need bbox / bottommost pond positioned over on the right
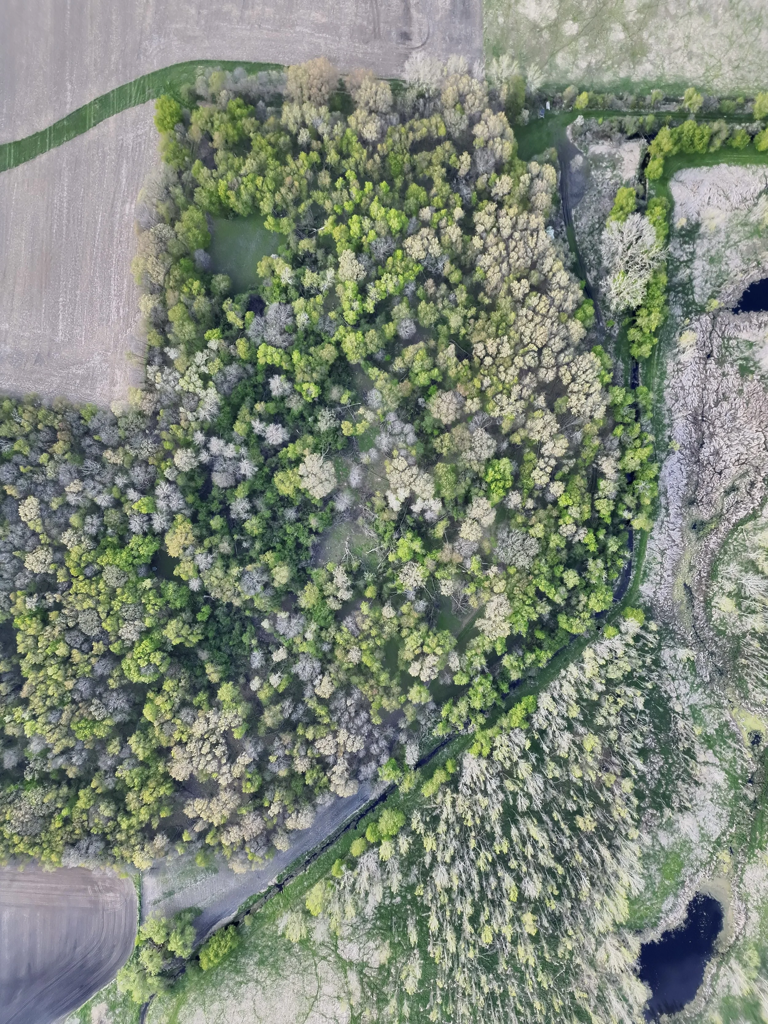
[637,891,722,1024]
